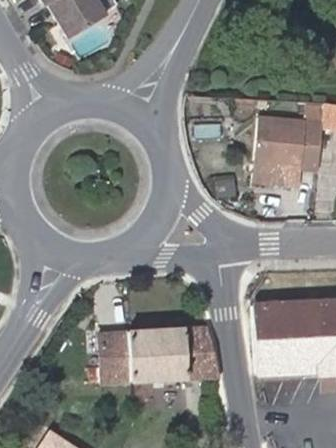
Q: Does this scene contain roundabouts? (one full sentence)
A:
Yes, a roundabout can be made out from above.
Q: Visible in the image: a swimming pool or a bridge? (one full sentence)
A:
It is a swimming pool that can be seen here.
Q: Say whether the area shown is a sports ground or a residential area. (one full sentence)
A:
This looks like a residential area.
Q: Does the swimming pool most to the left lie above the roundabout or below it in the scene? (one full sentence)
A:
In the image, the swimming pool most to the left sits above the roundabout.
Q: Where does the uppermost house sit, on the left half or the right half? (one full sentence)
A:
You can find the uppermost house on the left side of the picture.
